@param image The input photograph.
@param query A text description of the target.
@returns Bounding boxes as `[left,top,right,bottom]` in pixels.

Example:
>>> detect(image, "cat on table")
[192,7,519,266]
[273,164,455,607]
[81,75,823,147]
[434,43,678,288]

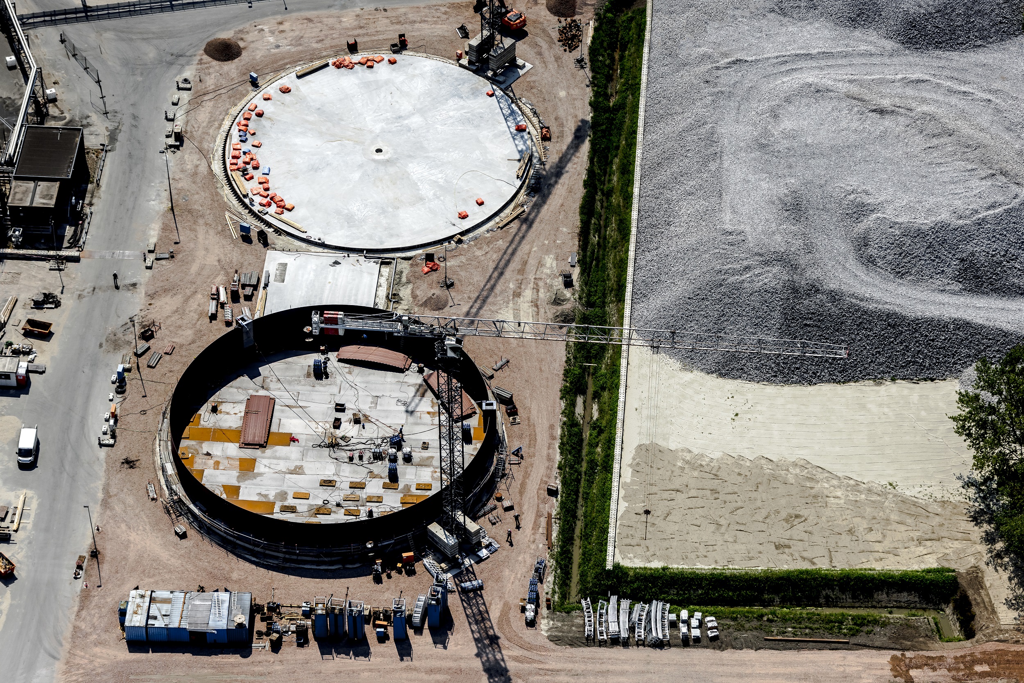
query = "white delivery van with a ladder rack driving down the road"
[10,427,39,476]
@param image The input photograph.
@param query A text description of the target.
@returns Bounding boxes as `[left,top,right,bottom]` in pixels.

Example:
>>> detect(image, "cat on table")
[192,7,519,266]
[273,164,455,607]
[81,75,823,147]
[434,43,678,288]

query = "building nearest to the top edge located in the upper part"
[6,123,86,241]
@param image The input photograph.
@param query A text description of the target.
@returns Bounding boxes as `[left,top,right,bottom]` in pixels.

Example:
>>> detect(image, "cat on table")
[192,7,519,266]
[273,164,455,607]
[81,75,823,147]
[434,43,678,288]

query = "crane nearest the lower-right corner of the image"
[311,301,849,575]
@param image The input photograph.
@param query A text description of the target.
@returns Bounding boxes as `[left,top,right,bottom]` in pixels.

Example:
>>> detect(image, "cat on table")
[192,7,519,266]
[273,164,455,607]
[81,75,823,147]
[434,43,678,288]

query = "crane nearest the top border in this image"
[458,0,534,89]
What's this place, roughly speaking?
industrial area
